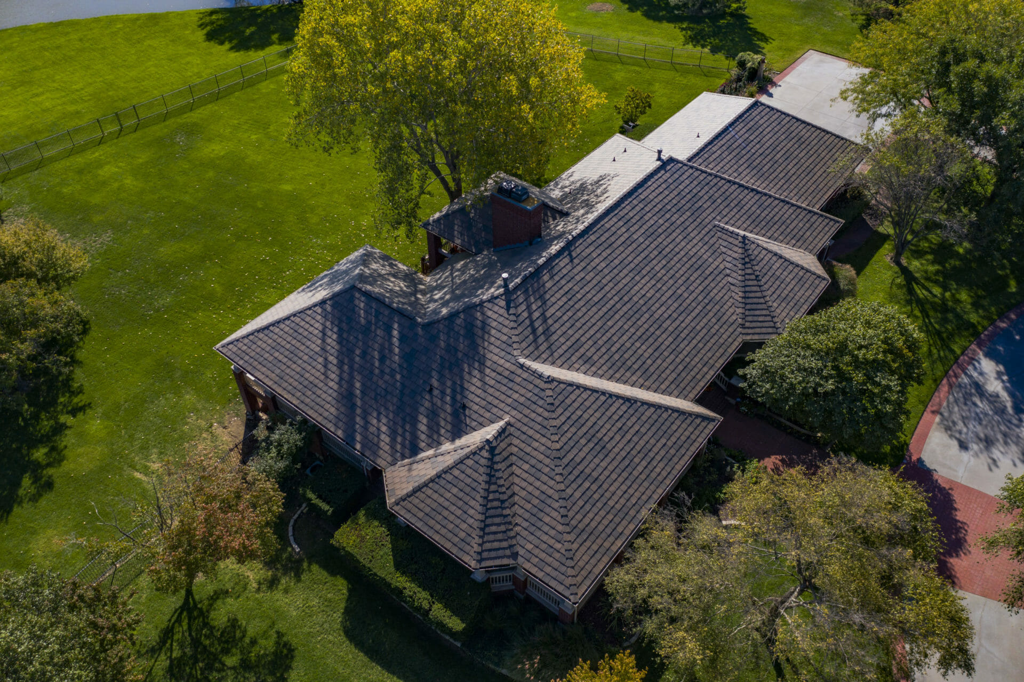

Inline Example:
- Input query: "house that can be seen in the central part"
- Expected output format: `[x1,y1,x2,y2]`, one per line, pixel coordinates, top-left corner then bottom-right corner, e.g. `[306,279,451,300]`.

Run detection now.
[210,91,877,640]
